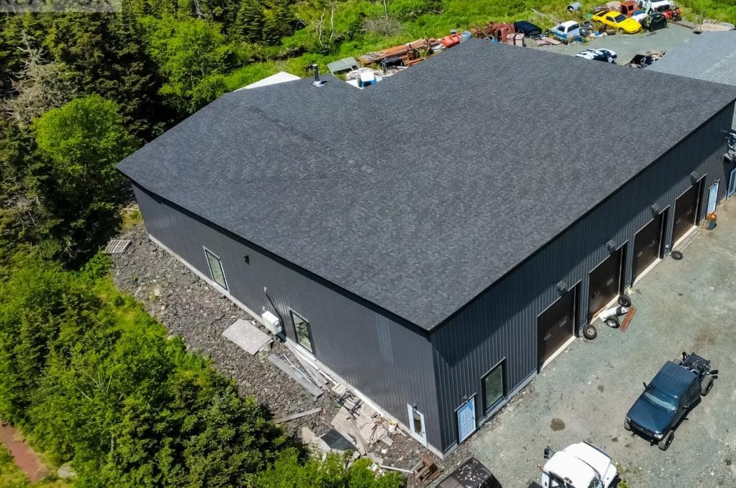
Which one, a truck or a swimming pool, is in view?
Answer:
truck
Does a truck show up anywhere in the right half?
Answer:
Yes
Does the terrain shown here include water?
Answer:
No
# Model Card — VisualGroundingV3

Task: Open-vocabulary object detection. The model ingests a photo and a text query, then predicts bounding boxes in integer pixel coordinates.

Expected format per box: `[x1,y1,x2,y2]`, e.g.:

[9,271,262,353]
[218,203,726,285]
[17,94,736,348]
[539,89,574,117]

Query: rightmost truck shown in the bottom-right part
[623,350,724,449]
